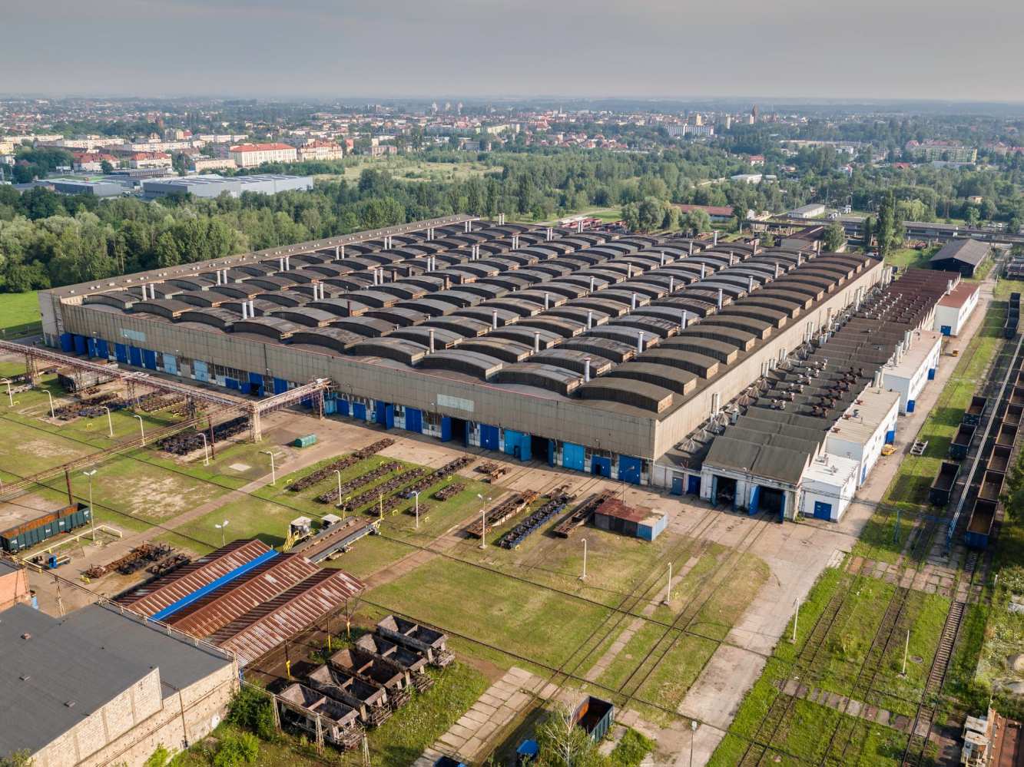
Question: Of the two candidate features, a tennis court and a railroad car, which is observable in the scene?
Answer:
railroad car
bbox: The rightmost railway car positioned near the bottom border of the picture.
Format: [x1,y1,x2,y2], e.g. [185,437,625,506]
[548,693,615,755]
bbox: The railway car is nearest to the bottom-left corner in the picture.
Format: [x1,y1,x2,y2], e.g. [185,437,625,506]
[0,503,98,559]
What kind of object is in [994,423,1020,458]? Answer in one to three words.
rail car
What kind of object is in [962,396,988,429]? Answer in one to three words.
rail car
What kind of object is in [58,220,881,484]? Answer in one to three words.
building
